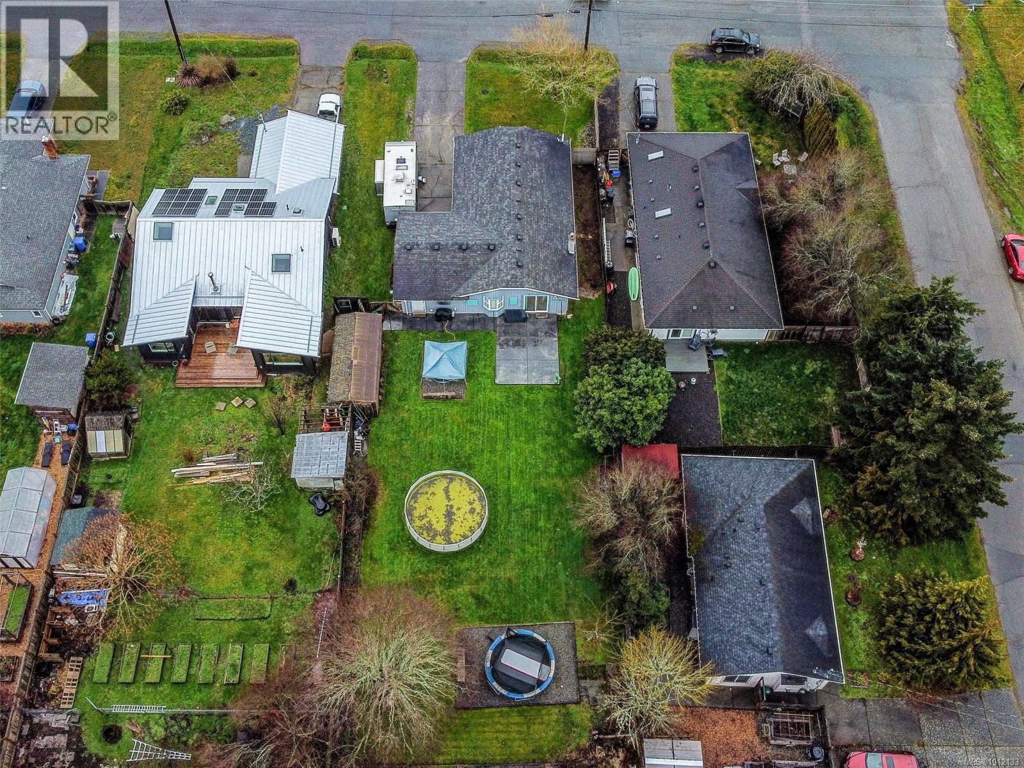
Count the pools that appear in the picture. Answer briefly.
one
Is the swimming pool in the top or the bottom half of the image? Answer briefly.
bottom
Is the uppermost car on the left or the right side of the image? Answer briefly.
right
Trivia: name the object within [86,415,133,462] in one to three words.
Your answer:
shed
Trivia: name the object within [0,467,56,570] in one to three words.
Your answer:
greenhouse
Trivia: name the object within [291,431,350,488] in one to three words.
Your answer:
shed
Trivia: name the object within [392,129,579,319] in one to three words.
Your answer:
house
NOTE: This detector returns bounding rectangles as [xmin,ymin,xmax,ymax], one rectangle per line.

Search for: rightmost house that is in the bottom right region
[680,455,852,694]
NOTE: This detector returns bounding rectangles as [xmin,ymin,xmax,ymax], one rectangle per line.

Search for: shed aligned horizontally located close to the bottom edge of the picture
[643,739,703,768]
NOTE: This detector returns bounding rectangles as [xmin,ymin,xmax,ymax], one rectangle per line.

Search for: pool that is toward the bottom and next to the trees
[405,470,489,554]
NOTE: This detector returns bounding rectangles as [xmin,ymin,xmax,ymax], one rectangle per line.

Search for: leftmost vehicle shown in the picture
[0,80,40,123]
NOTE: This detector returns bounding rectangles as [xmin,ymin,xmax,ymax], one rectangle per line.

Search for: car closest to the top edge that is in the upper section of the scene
[709,25,764,55]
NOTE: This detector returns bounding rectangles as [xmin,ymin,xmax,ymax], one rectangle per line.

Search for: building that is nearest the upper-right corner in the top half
[627,130,784,345]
